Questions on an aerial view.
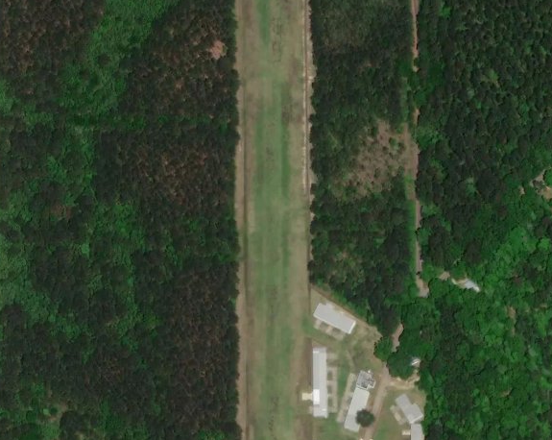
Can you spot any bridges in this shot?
No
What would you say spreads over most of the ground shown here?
trees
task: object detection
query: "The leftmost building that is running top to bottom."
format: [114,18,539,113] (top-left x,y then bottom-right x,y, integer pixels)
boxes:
[313,348,328,417]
